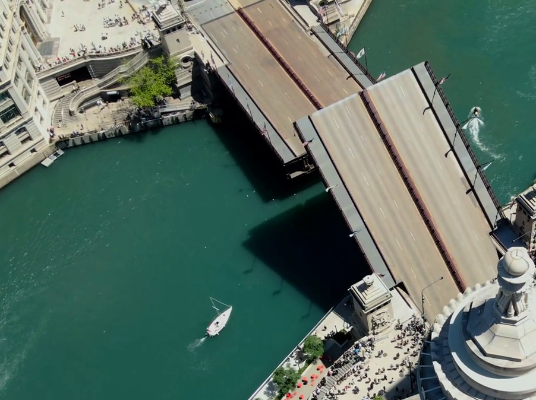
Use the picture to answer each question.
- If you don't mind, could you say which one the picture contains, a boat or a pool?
boat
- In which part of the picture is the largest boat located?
bottom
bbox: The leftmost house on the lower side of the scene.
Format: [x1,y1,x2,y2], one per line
[347,273,403,345]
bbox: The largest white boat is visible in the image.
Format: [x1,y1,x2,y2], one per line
[202,296,234,340]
